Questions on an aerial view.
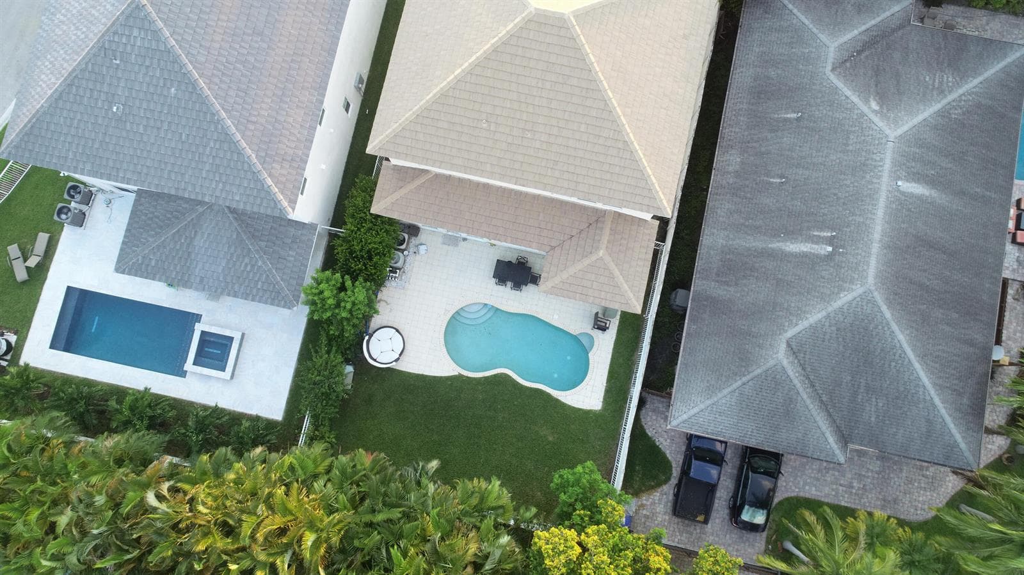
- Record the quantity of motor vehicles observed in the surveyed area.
2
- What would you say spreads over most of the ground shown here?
buildings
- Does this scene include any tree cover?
Yes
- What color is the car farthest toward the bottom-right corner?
black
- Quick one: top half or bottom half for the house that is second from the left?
top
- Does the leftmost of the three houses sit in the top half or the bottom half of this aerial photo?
top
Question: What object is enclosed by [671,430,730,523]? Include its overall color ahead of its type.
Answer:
black truck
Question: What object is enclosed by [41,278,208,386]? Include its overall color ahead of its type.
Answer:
blue swimming pool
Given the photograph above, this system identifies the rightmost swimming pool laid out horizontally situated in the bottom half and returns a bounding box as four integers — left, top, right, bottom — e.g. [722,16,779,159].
[437,296,601,397]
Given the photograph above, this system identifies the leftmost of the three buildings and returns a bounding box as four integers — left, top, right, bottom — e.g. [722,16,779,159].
[0,0,388,313]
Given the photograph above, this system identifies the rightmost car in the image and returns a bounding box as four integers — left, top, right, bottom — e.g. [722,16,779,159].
[725,441,785,534]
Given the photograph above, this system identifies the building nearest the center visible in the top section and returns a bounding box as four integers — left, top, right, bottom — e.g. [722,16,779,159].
[365,0,717,315]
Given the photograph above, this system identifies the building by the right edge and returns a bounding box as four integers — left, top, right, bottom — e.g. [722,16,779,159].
[666,0,1024,470]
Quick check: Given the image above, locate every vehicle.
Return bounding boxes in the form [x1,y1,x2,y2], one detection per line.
[671,430,730,523]
[725,441,785,534]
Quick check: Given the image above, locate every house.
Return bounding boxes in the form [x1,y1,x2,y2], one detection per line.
[666,0,1024,470]
[0,0,388,313]
[365,0,717,315]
